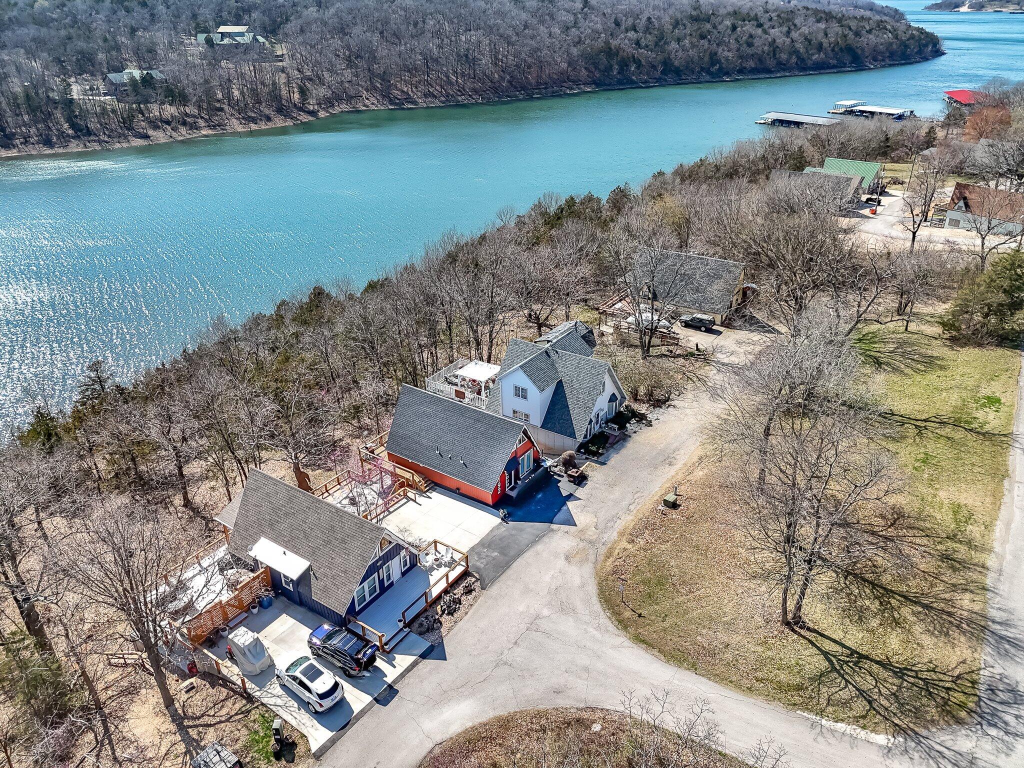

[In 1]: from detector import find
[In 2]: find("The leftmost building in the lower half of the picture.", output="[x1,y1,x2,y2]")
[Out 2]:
[206,466,433,622]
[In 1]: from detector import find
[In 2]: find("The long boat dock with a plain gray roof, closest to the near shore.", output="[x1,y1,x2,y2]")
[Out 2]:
[749,113,830,130]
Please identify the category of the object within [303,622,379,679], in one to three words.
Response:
car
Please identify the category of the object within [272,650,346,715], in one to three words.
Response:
car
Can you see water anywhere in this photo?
Yes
